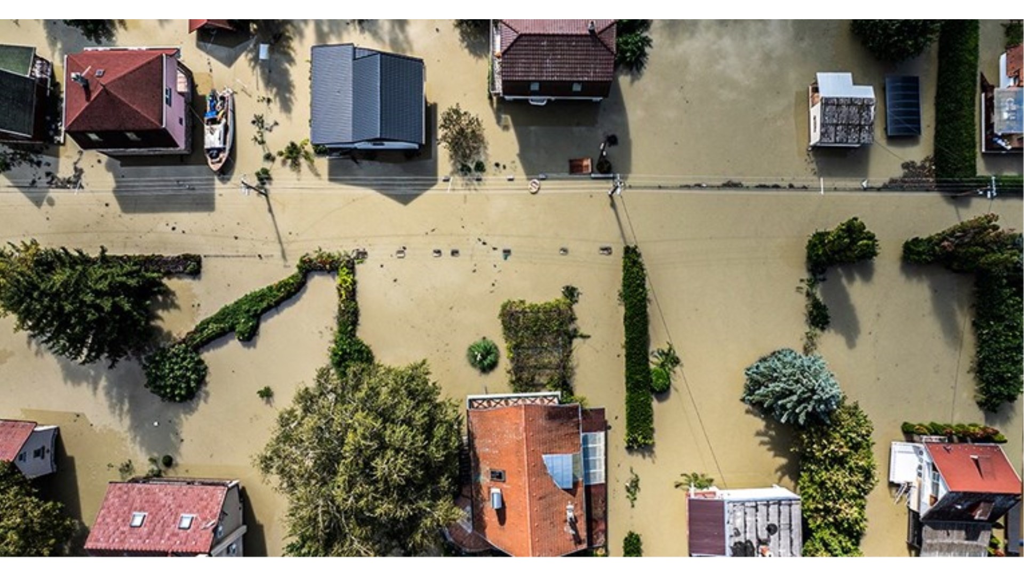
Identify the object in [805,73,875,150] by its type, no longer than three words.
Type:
shed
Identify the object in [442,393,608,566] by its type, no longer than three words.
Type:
house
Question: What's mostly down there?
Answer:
water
